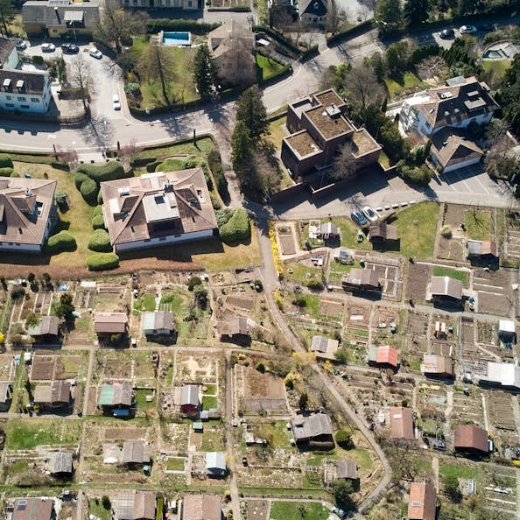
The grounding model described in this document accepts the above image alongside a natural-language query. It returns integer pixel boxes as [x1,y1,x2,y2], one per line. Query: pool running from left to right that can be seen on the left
[160,32,194,45]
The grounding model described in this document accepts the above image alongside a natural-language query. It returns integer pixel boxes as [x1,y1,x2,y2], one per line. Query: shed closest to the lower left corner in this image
[13,497,57,520]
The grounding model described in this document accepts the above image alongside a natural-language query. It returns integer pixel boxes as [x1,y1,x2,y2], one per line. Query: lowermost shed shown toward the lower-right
[409,483,438,520]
